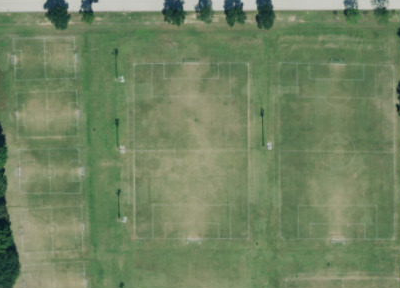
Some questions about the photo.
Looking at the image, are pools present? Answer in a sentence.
No, the frame has no pool in it.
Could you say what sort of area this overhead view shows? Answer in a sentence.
It's a sports ground.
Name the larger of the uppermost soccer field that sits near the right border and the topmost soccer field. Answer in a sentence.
The larger object is the uppermost soccer field that sits near the right border, with the topmost soccer field being the smaller of the pair.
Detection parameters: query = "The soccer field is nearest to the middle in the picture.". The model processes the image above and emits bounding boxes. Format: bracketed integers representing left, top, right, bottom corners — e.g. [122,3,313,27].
[128,64,254,240]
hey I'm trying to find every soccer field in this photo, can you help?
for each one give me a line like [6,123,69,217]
[16,92,78,138]
[18,149,81,194]
[21,206,82,254]
[128,64,254,240]
[24,262,85,288]
[274,64,394,240]
[14,37,76,81]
